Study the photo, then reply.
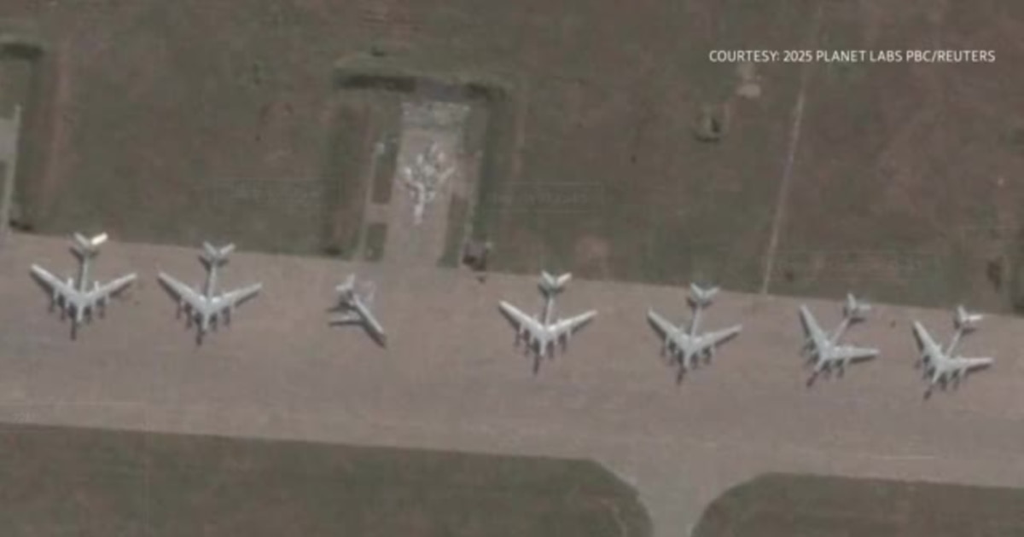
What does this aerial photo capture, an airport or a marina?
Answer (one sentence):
This looks like an airport.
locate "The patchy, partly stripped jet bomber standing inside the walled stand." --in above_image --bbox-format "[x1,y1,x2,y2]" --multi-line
[405,153,451,225]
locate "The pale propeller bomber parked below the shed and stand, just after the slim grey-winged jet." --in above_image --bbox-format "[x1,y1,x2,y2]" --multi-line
[501,272,596,367]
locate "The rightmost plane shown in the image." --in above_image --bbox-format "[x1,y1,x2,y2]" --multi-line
[912,305,991,395]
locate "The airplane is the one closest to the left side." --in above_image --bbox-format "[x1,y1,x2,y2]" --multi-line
[31,231,136,332]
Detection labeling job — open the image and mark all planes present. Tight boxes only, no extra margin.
[912,305,991,395]
[31,231,136,332]
[799,292,879,381]
[405,153,451,225]
[159,241,262,343]
[332,275,388,340]
[501,272,596,367]
[649,283,741,377]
